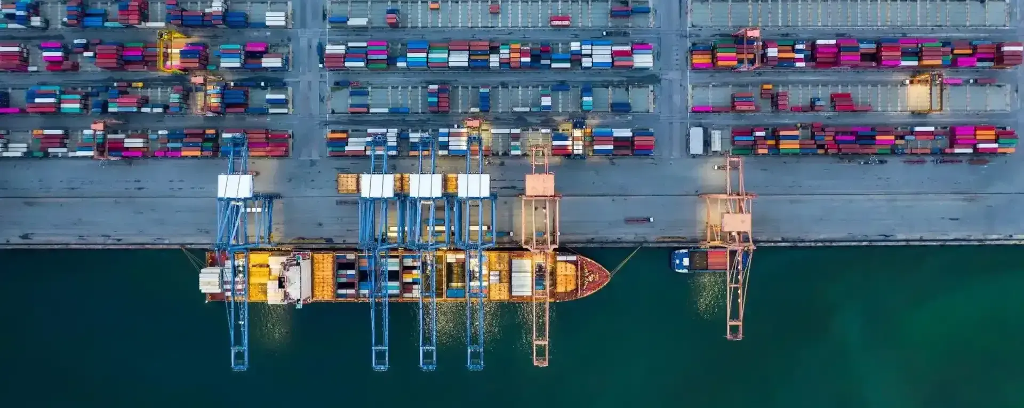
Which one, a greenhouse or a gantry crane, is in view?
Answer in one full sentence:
The image shows a gantry crane.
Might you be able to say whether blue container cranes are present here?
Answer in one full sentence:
Yes, the picture does show a blue container crane.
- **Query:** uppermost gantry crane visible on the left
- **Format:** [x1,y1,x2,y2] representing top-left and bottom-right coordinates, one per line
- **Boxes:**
[158,31,196,76]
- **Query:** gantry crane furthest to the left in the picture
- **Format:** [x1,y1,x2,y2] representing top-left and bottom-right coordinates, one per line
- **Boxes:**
[91,120,127,160]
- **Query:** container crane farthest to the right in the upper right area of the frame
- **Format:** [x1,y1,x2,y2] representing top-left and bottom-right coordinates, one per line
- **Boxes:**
[910,71,946,114]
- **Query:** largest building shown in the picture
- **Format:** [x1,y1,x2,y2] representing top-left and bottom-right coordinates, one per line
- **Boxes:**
[687,127,703,155]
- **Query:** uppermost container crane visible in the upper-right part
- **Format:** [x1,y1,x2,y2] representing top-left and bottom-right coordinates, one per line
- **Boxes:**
[732,27,761,74]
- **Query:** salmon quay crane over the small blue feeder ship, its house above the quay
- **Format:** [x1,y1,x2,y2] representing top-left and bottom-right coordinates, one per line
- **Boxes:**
[691,152,763,341]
